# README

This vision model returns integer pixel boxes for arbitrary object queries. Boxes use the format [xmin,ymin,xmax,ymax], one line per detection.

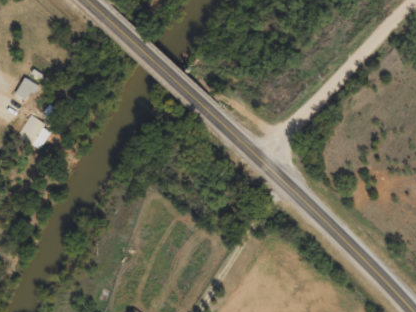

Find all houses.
[14,76,40,103]
[20,116,50,150]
